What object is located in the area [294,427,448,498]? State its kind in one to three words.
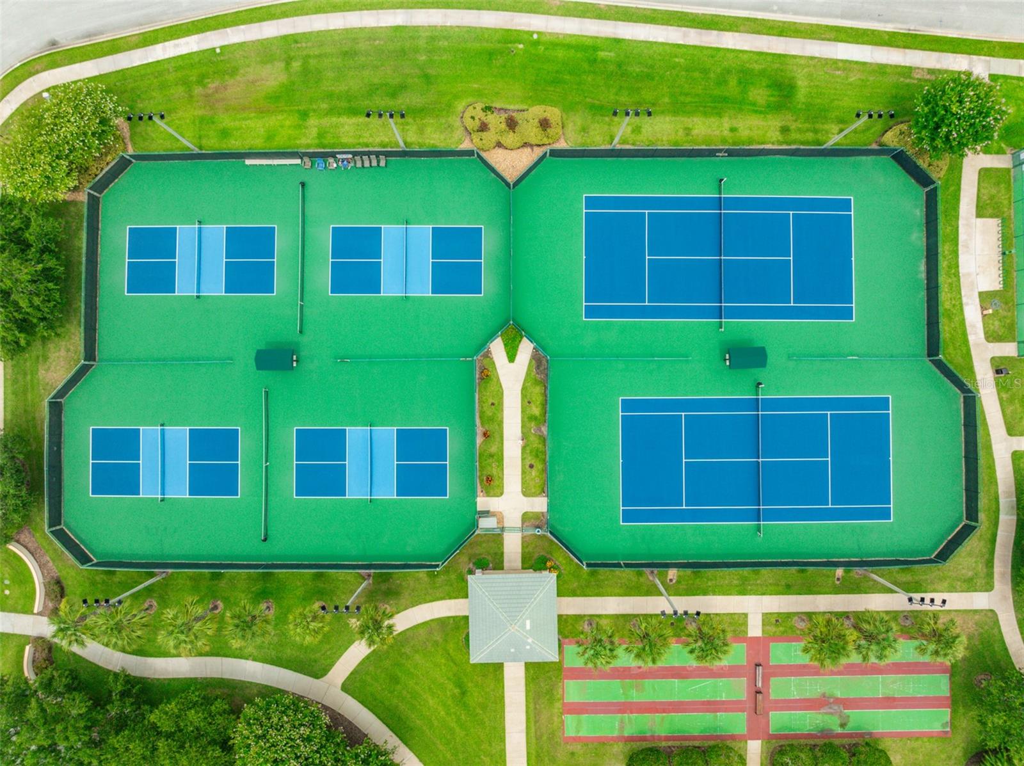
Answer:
sports court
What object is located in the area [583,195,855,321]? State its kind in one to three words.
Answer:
tennis court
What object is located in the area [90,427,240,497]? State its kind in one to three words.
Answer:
sports court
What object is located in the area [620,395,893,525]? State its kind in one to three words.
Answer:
tennis court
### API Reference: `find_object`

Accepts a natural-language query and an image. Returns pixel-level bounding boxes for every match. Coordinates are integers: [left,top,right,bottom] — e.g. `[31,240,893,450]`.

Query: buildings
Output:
[468,567,558,664]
